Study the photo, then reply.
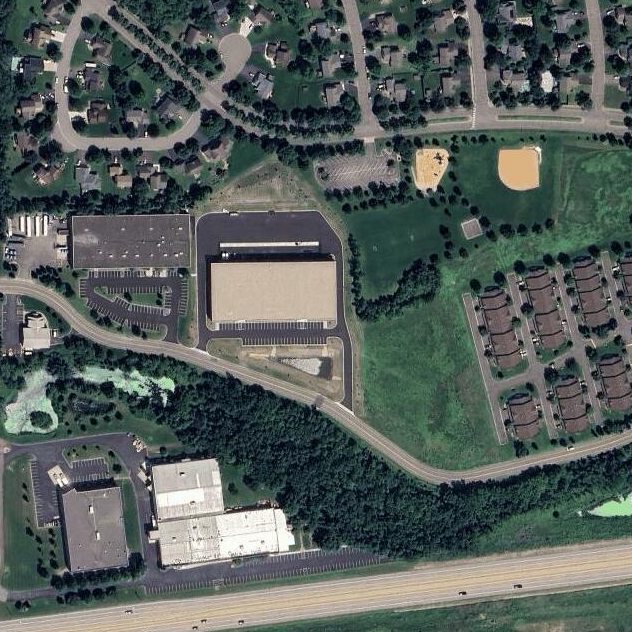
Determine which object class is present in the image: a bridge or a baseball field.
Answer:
baseball field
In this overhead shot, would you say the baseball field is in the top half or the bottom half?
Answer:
top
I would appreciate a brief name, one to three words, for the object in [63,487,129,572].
building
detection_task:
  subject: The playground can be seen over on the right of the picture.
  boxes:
[412,147,450,196]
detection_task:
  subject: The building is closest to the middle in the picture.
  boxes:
[211,261,337,321]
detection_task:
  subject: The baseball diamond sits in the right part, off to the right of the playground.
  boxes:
[498,147,541,191]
